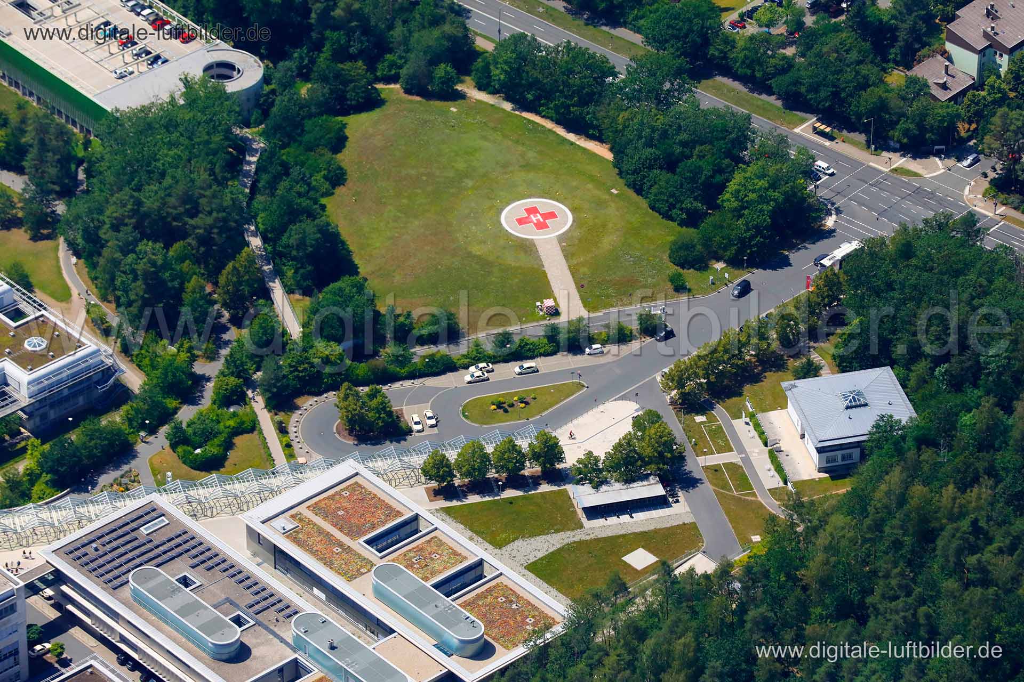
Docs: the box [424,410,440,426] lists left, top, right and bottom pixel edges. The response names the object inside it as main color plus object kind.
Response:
white car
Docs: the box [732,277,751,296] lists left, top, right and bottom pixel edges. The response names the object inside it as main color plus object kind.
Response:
black vehicle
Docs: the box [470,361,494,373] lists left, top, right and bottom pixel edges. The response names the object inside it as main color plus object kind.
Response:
white vehicle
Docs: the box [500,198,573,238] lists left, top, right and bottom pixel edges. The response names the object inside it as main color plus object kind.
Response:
white helipad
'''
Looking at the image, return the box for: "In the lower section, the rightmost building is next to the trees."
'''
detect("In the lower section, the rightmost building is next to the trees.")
[781,366,925,463]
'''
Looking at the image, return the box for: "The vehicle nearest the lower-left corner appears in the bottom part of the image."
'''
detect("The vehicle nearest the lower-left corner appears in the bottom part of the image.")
[30,644,51,659]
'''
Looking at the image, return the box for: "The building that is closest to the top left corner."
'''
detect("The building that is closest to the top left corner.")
[0,0,264,141]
